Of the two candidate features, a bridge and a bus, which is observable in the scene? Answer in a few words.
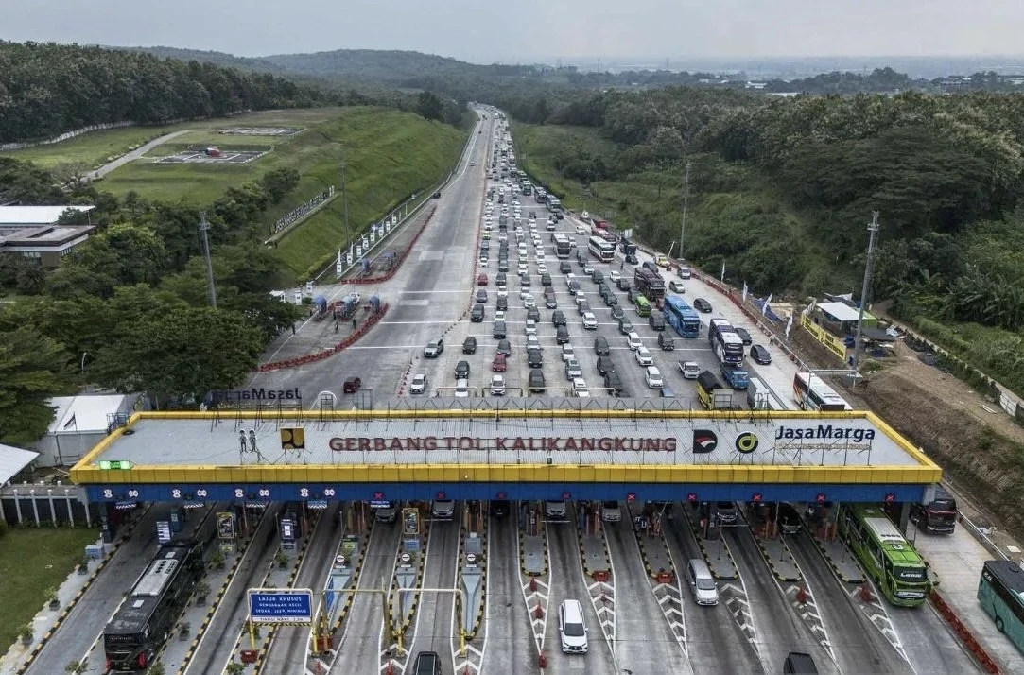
bus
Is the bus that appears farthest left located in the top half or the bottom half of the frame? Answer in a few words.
bottom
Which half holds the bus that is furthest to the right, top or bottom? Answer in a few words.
bottom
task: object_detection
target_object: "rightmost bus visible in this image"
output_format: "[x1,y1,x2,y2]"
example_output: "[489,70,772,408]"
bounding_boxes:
[979,561,1024,646]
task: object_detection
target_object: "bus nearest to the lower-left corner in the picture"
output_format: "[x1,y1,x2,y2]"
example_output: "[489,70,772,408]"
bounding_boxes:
[89,527,202,664]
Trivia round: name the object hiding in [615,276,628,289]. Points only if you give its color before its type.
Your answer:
gray vehicle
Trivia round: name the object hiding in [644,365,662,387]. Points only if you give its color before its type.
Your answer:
white car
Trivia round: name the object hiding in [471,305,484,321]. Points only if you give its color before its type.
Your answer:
gray vehicle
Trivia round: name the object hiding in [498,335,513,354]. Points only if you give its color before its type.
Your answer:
gray car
